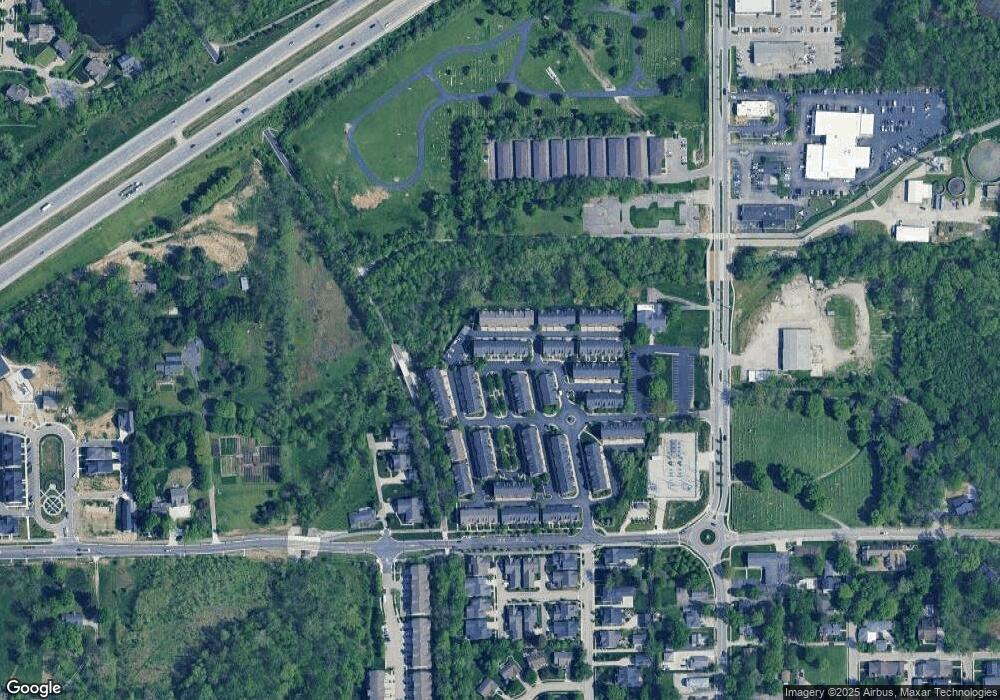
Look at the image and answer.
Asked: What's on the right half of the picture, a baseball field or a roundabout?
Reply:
roundabout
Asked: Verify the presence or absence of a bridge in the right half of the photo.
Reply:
No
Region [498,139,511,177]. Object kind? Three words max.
building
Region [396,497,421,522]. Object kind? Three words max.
house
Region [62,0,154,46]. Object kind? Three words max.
pond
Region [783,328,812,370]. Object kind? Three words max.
barn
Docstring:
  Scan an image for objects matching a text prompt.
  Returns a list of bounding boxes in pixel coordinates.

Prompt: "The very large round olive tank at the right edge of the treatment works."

[969,140,1000,183]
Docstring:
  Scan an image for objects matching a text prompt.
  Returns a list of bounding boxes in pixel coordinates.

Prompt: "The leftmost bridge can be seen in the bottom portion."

[288,528,319,558]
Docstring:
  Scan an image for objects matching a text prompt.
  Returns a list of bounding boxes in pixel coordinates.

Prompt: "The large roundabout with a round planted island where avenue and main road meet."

[679,505,738,562]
